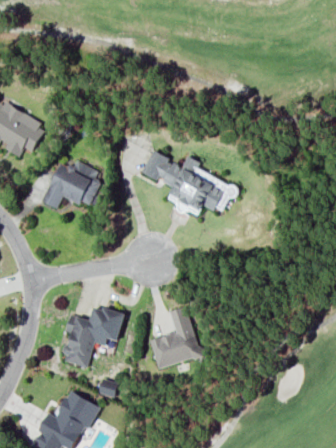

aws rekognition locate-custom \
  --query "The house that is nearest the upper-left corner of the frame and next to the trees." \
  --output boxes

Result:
[0,101,46,158]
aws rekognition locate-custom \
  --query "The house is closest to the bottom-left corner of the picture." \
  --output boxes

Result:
[38,394,98,448]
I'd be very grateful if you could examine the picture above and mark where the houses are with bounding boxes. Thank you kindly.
[142,150,240,216]
[38,394,98,448]
[43,158,104,209]
[0,101,46,158]
[61,306,126,366]
[152,308,205,367]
